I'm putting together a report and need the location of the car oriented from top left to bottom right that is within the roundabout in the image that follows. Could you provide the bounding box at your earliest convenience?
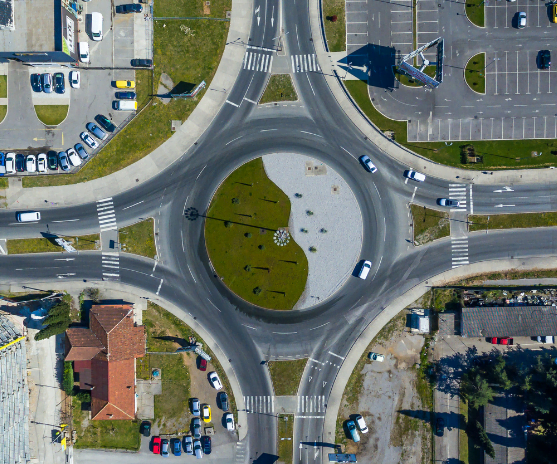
[359,154,377,172]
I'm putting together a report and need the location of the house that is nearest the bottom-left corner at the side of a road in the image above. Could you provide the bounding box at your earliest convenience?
[65,304,147,420]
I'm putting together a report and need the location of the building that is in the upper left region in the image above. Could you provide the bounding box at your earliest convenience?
[0,0,81,63]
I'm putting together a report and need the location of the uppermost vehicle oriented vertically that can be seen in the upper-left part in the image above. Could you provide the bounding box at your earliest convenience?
[90,10,103,42]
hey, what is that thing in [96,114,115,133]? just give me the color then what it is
black car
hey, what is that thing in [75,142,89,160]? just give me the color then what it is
blue car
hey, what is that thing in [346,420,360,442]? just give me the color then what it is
blue car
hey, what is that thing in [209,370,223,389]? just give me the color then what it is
white vehicle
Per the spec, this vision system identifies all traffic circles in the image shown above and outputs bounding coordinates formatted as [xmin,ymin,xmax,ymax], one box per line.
[158,106,409,358]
